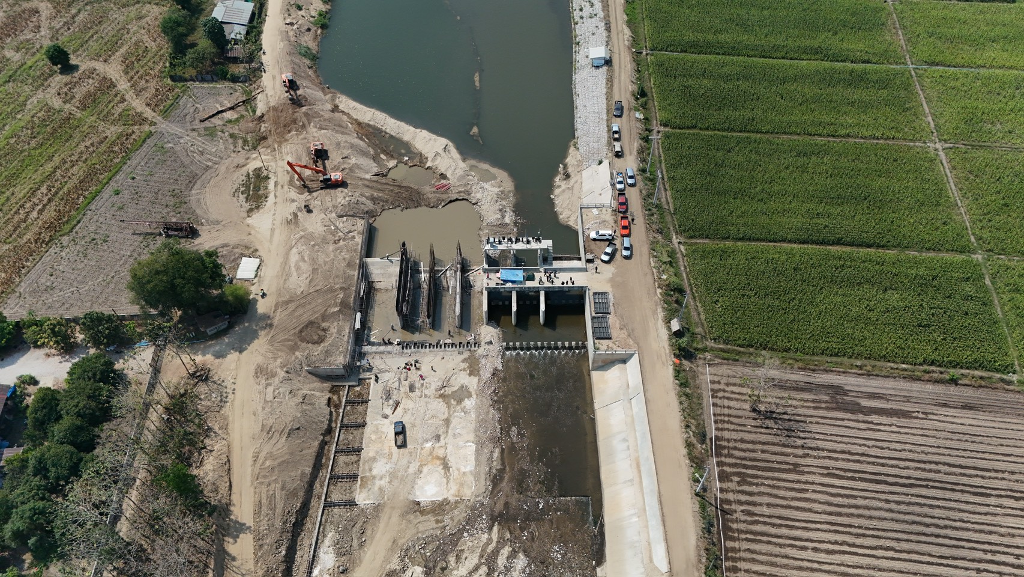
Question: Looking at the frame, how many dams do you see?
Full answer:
I count 2 dams.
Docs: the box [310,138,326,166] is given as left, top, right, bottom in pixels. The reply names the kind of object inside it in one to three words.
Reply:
work vehicle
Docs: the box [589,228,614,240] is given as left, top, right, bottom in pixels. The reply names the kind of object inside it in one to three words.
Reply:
vehicle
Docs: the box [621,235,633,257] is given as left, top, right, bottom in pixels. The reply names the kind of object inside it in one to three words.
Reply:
vehicle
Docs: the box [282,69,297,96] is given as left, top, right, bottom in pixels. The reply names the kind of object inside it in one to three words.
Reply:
work vehicle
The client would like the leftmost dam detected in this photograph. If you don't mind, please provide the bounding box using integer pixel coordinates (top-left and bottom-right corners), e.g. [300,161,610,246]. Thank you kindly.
[302,212,483,394]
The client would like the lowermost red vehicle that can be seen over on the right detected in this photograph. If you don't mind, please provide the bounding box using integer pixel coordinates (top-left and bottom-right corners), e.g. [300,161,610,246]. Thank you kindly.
[619,215,631,235]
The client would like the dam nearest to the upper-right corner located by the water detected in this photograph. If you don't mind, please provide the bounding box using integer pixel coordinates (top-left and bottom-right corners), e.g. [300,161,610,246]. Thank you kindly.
[483,202,643,371]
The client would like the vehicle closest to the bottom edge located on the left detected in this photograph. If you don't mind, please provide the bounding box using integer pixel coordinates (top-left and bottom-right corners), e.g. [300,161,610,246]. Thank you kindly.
[393,420,406,446]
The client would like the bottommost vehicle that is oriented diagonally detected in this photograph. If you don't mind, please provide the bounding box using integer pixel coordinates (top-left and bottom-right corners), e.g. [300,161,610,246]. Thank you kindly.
[600,239,618,262]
